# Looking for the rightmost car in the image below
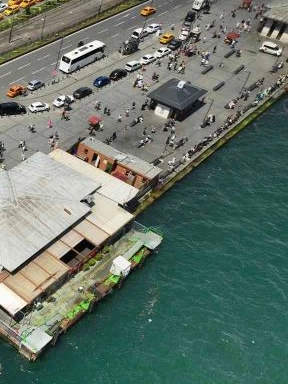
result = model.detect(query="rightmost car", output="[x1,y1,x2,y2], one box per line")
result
[258,44,286,58]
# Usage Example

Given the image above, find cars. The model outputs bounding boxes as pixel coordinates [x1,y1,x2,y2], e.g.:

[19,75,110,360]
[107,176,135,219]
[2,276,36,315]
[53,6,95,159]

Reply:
[69,84,94,101]
[123,59,145,73]
[24,80,47,92]
[140,54,159,66]
[8,0,24,6]
[51,95,76,109]
[139,7,158,17]
[20,0,37,9]
[177,30,191,42]
[3,5,20,16]
[108,67,130,83]
[146,23,164,34]
[180,20,194,31]
[91,74,113,89]
[4,85,29,98]
[165,39,184,51]
[158,34,176,45]
[0,4,9,13]
[183,10,197,22]
[130,27,149,40]
[27,101,53,114]
[258,44,286,58]
[152,47,173,59]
